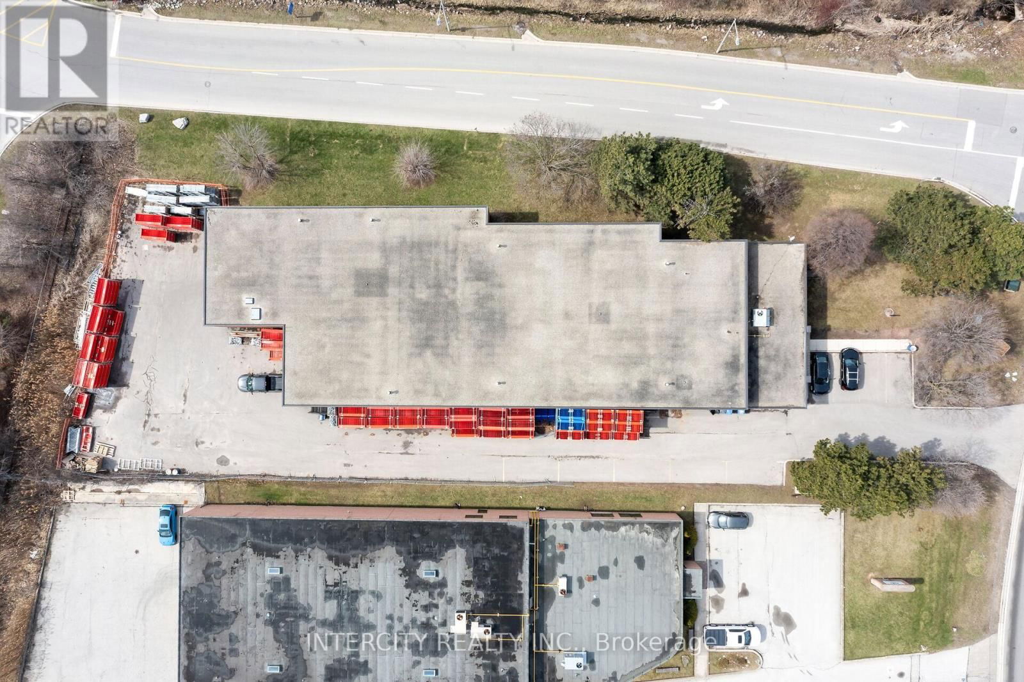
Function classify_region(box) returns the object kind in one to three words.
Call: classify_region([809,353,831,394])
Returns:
car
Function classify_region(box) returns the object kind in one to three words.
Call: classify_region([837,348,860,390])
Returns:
car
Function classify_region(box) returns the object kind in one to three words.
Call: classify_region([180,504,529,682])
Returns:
building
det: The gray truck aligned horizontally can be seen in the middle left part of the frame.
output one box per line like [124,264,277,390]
[239,373,283,394]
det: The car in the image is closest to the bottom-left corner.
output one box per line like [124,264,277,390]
[157,505,179,545]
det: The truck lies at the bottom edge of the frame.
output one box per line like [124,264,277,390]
[705,624,758,648]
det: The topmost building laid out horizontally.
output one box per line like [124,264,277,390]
[204,206,748,408]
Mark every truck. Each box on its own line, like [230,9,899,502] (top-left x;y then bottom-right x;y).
[705,624,758,648]
[239,373,283,394]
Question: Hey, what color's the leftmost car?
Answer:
blue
